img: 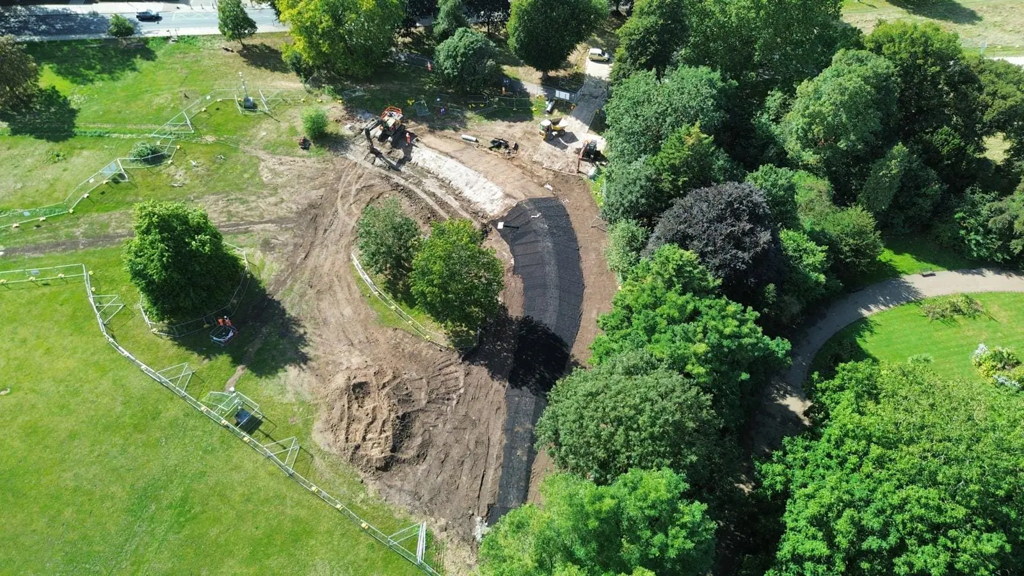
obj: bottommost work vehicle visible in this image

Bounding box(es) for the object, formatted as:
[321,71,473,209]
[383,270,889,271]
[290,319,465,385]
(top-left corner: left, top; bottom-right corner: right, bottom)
[581,147,603,167]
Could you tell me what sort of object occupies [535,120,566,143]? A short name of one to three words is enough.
truck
